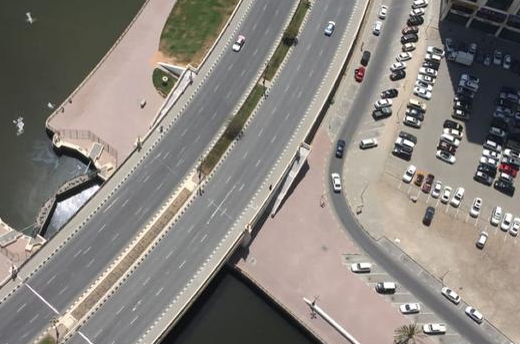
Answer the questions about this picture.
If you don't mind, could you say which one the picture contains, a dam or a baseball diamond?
dam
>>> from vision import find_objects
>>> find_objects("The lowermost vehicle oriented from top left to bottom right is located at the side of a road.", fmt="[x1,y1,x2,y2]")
[463,305,485,324]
